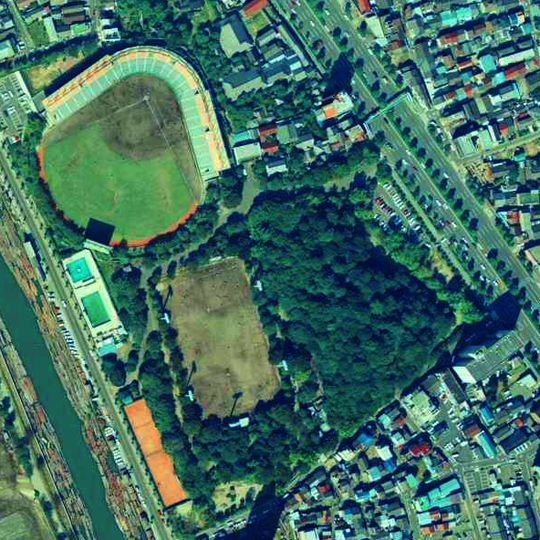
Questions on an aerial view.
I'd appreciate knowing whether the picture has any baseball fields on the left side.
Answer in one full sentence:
Yes, I can see a baseball field on the left side.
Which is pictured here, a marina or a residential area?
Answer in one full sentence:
What you see here is a residential area.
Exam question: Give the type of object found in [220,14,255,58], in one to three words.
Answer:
building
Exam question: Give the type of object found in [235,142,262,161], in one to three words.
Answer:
house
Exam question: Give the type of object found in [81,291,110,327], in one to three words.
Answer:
swimming pool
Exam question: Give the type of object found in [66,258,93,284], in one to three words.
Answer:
swimming pool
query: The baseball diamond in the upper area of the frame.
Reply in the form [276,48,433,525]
[37,73,202,248]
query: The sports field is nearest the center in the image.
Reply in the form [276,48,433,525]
[166,256,280,419]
